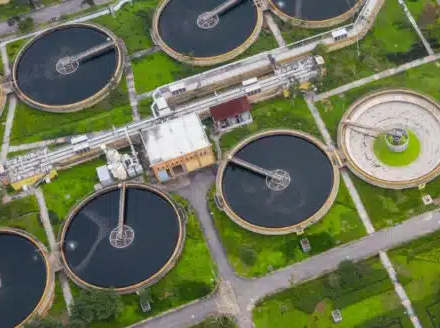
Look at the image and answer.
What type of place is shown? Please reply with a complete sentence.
What you see here is an industrial area.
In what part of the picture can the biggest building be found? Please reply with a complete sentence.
The biggest building is in the center part of the image.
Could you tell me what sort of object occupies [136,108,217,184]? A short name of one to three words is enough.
building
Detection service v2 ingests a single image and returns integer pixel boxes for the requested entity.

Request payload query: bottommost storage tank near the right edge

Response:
[337,89,440,191]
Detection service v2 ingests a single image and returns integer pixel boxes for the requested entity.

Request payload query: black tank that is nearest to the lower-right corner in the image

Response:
[213,129,340,236]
